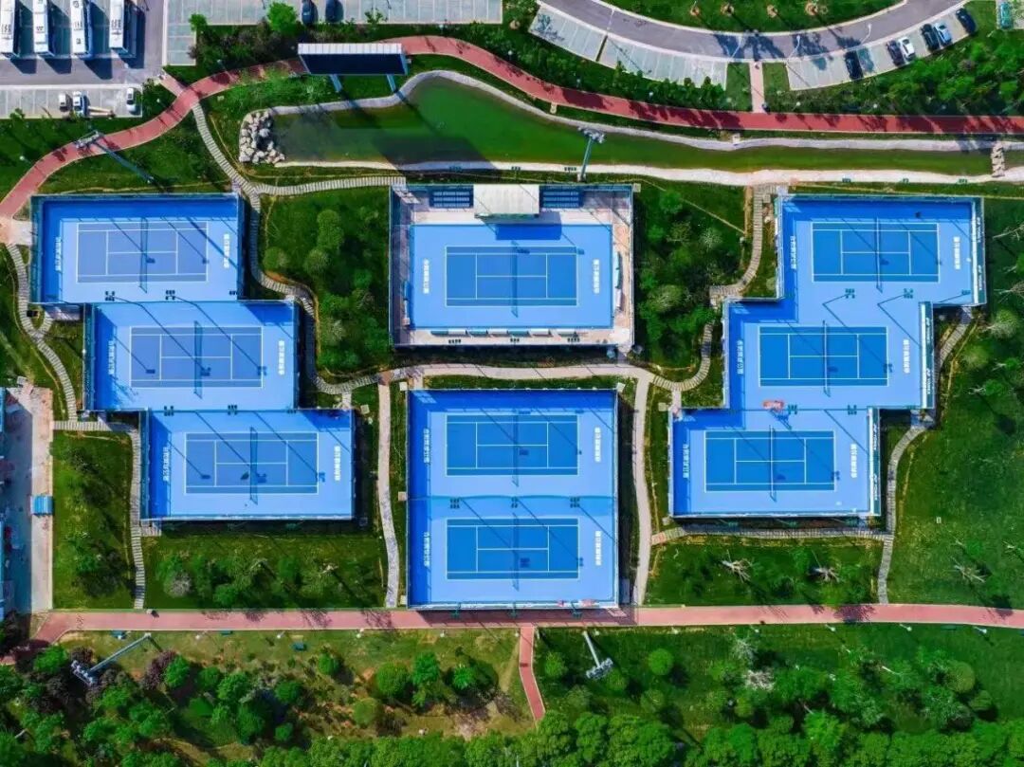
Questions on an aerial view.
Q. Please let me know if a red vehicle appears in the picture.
No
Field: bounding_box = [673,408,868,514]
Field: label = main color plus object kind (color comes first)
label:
blue tennis court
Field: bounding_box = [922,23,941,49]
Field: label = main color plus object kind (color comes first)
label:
black car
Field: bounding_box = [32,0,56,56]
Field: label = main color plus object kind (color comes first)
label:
white bus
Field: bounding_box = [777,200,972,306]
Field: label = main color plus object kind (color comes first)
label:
blue tennis court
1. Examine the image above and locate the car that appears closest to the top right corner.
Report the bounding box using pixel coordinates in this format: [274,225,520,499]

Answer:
[999,2,1013,27]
